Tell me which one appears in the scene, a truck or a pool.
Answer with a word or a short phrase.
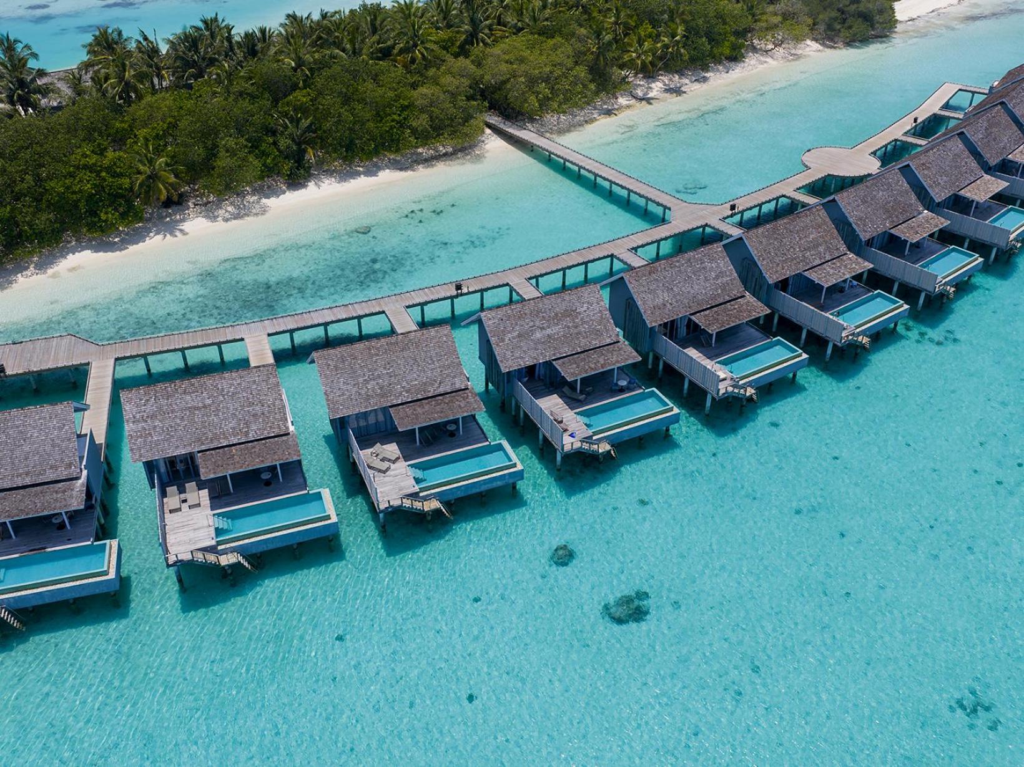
pool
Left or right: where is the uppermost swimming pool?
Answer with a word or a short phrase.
right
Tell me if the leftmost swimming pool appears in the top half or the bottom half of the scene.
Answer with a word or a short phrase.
bottom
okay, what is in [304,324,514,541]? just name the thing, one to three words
house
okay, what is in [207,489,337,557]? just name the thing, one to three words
swimming pool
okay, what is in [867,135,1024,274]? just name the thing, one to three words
house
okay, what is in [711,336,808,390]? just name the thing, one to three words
swimming pool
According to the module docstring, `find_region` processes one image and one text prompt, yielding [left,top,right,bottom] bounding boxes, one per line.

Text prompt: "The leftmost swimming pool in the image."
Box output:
[0,539,120,609]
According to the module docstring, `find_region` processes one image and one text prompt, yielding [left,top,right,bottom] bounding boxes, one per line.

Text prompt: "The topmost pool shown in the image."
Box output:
[981,205,1024,241]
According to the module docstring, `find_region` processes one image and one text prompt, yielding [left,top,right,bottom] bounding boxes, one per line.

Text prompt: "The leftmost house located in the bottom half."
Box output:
[0,402,112,556]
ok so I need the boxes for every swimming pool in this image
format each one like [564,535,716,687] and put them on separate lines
[711,336,808,390]
[0,539,120,609]
[912,245,983,287]
[824,290,909,338]
[207,489,337,557]
[405,440,523,503]
[571,387,680,445]
[981,205,1024,241]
